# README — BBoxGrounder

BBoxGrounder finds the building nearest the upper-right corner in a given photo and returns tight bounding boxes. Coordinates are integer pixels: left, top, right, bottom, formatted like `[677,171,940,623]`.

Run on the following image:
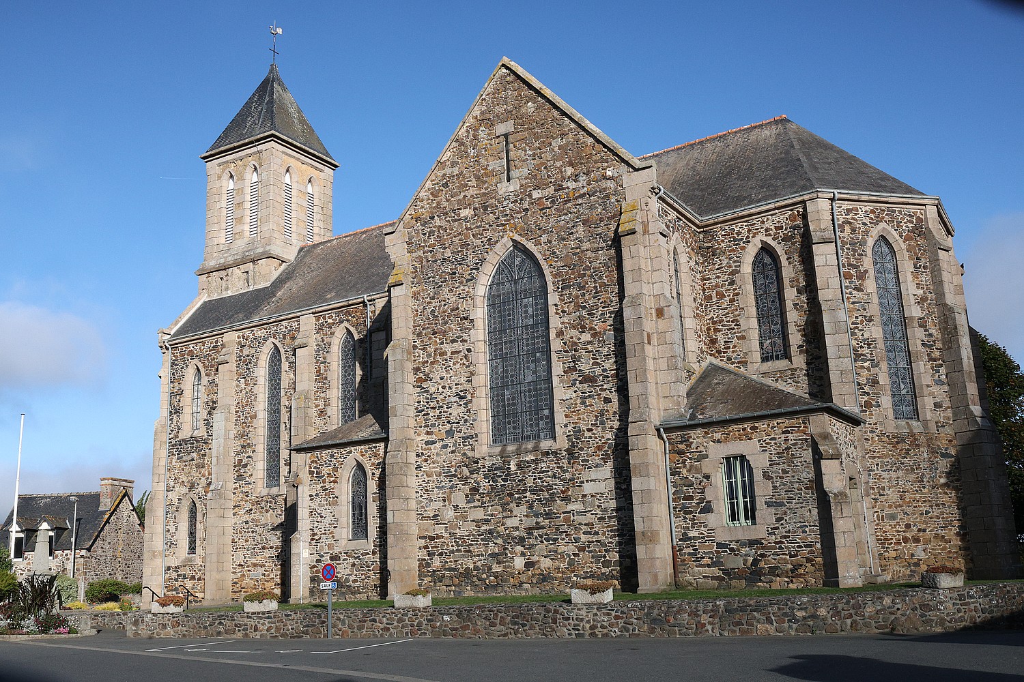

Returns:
[137,28,1024,610]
